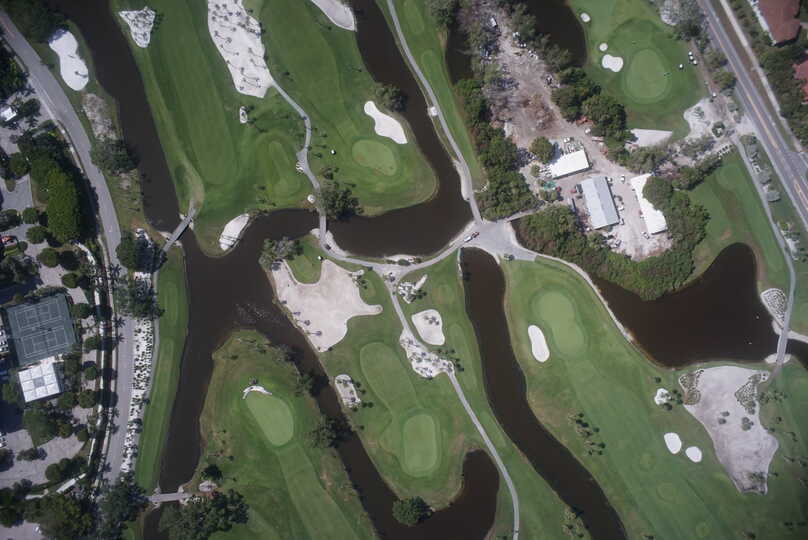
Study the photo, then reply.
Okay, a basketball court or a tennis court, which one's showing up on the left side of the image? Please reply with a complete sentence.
The one visible on the left side of the image is a tennis court.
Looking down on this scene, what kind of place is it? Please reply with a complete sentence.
It's a golf course.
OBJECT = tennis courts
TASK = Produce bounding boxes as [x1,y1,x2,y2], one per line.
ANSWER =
[13,321,77,363]
[6,294,70,336]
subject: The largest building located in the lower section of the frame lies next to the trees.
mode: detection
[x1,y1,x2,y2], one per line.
[19,359,66,402]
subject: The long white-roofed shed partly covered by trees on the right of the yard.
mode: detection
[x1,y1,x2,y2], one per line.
[628,174,668,234]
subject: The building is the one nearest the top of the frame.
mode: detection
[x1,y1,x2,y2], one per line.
[751,0,801,47]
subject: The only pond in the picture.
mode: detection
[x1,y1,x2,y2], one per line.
[513,231,808,370]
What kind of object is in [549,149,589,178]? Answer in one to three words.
building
